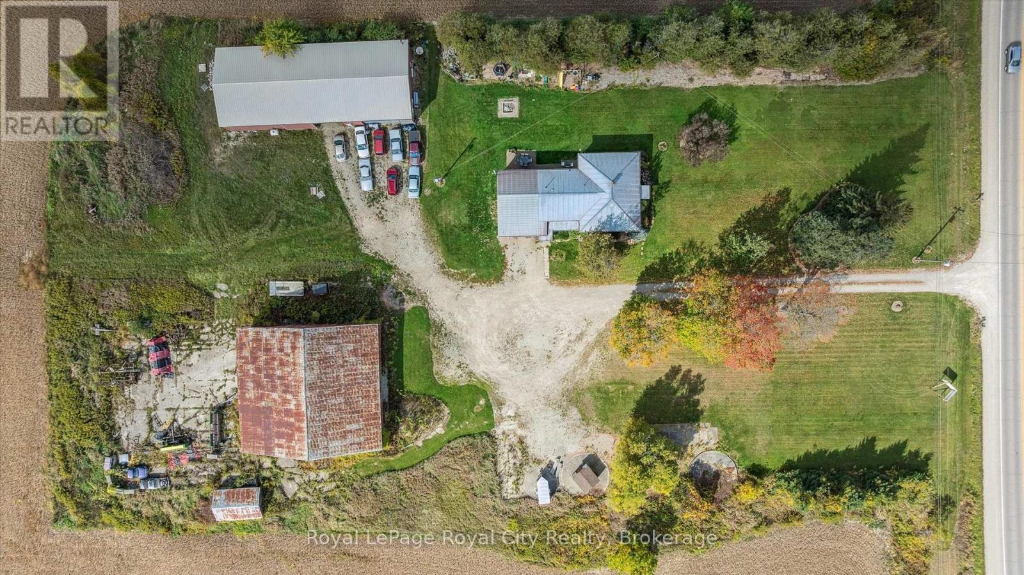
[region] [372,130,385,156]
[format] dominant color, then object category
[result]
red vehicle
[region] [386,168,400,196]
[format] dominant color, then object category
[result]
red car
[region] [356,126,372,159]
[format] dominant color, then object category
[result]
white car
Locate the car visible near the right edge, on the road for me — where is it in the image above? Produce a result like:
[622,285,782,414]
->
[1004,46,1023,75]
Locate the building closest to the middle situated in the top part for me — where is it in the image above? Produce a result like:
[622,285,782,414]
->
[497,151,650,237]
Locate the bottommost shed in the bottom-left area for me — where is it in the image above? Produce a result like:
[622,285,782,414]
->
[209,486,266,520]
